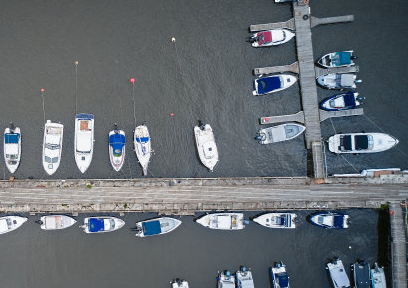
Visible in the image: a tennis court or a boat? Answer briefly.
boat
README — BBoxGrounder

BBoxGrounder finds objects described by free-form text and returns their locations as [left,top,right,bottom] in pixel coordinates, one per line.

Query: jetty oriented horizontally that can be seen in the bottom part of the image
[0,177,408,217]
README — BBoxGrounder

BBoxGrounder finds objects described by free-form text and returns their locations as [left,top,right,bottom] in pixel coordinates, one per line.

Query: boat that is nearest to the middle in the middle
[192,121,217,179]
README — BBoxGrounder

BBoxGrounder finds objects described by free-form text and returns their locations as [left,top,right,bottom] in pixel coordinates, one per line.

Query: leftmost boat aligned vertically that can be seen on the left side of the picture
[3,124,22,182]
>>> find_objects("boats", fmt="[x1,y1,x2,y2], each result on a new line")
[234,267,254,288]
[0,215,28,234]
[323,257,349,288]
[319,90,363,111]
[316,72,360,90]
[271,263,289,288]
[317,51,358,67]
[370,262,386,288]
[309,210,352,229]
[252,73,299,96]
[42,92,63,178]
[79,214,125,233]
[195,211,250,230]
[351,257,370,288]
[36,213,78,230]
[247,29,296,48]
[3,124,22,182]
[109,127,125,180]
[217,270,235,288]
[326,112,407,161]
[133,83,152,182]
[253,212,300,228]
[254,124,306,145]
[131,215,182,238]
[171,276,189,288]
[192,121,217,179]
[73,66,94,182]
